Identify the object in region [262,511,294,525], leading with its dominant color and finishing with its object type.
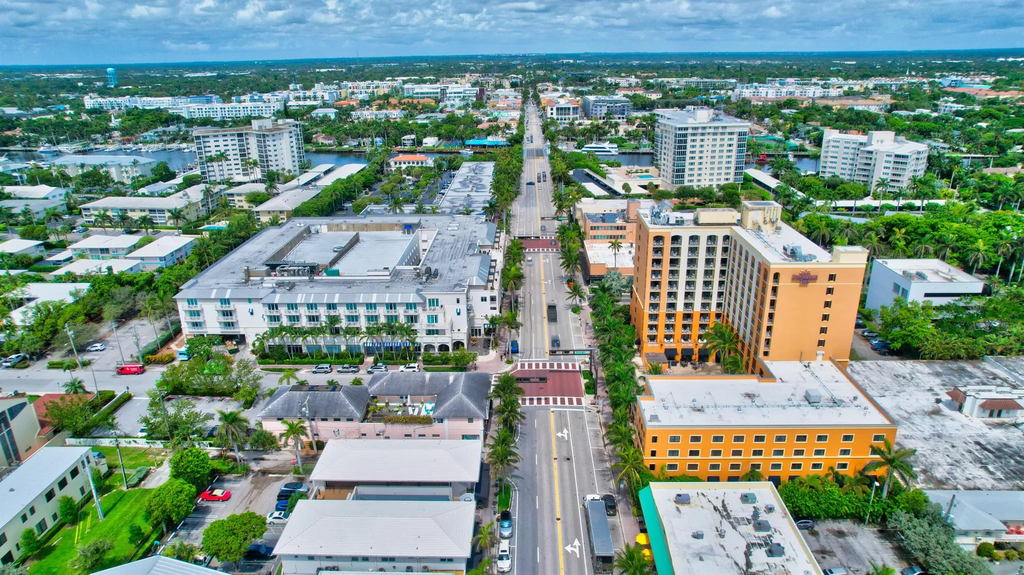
white car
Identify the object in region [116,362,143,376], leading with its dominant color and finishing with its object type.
red vehicle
